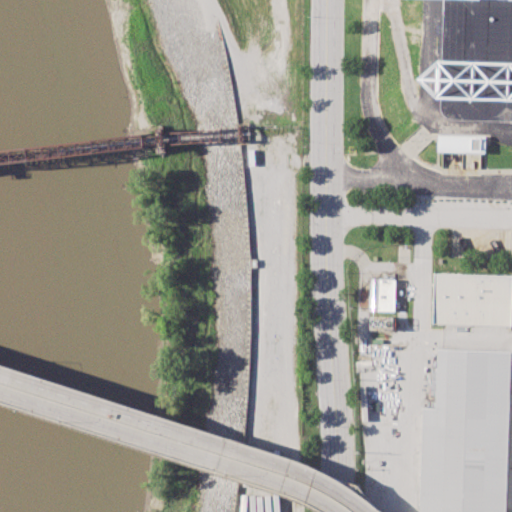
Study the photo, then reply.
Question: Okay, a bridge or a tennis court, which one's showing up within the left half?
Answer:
bridge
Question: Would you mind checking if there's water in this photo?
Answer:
Yes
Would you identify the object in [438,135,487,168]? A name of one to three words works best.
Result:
shed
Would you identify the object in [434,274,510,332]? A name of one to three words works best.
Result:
building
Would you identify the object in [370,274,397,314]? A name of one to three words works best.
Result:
house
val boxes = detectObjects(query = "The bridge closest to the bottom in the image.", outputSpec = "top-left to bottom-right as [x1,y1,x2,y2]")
[0,365,378,512]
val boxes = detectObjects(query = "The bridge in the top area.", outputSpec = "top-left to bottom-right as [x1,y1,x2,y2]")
[0,124,248,166]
